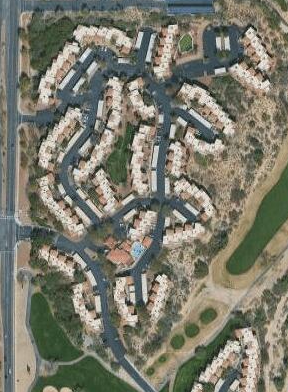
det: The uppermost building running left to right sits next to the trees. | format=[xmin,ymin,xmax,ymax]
[75,23,134,51]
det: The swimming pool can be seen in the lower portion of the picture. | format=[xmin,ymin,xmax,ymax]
[130,242,147,262]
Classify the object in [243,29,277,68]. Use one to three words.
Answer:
building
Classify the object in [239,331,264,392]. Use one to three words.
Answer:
building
